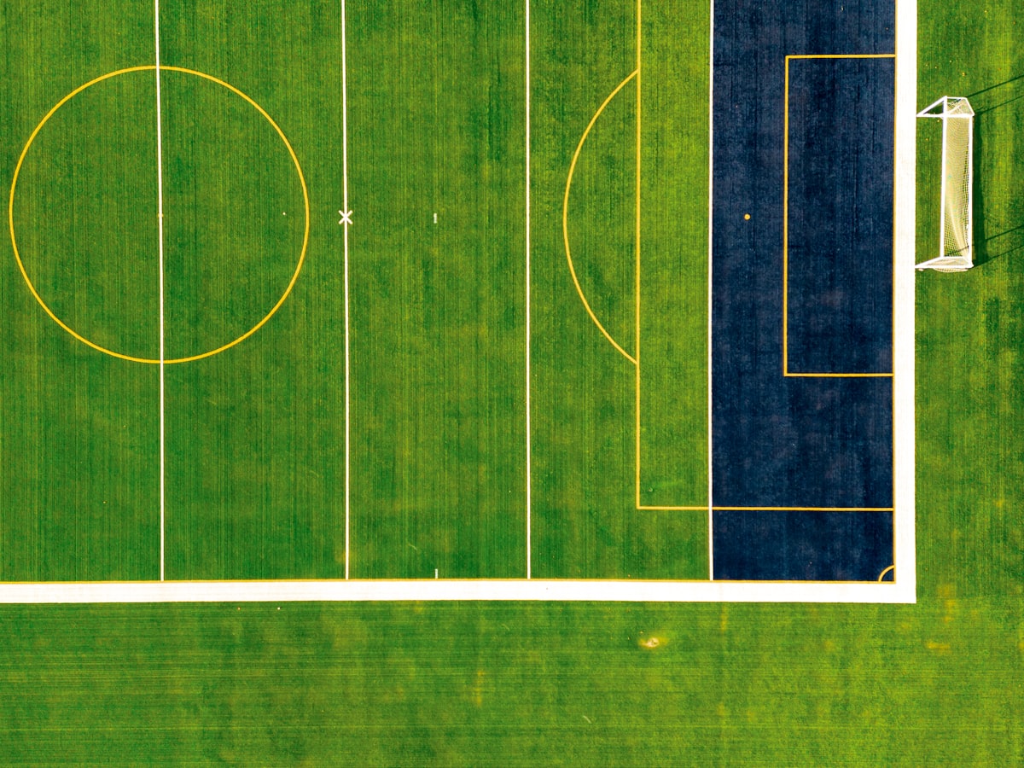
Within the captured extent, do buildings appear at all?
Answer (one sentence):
No, this view has no building in it.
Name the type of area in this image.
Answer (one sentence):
The area seen from above is a sports ground.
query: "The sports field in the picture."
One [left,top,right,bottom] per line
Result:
[0,0,897,584]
